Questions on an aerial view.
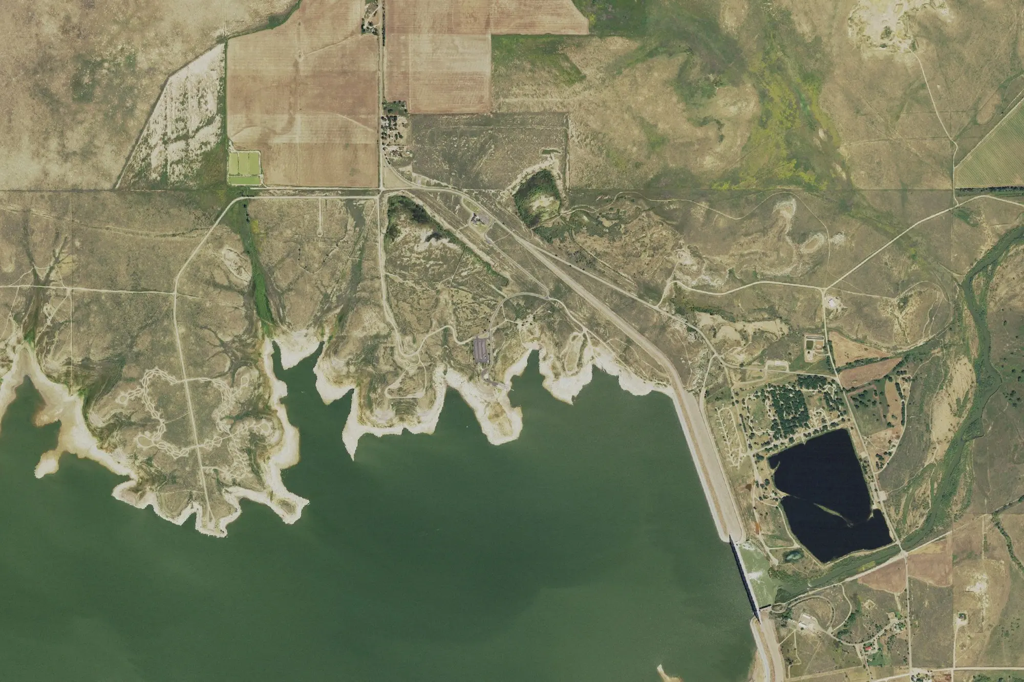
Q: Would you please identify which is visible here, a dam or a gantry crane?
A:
dam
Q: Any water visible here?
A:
Yes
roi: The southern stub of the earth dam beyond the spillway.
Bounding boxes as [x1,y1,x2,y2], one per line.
[751,617,786,682]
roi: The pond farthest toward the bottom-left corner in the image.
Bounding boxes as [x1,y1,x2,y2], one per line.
[0,340,760,682]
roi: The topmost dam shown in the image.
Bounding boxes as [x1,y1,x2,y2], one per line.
[521,235,742,542]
